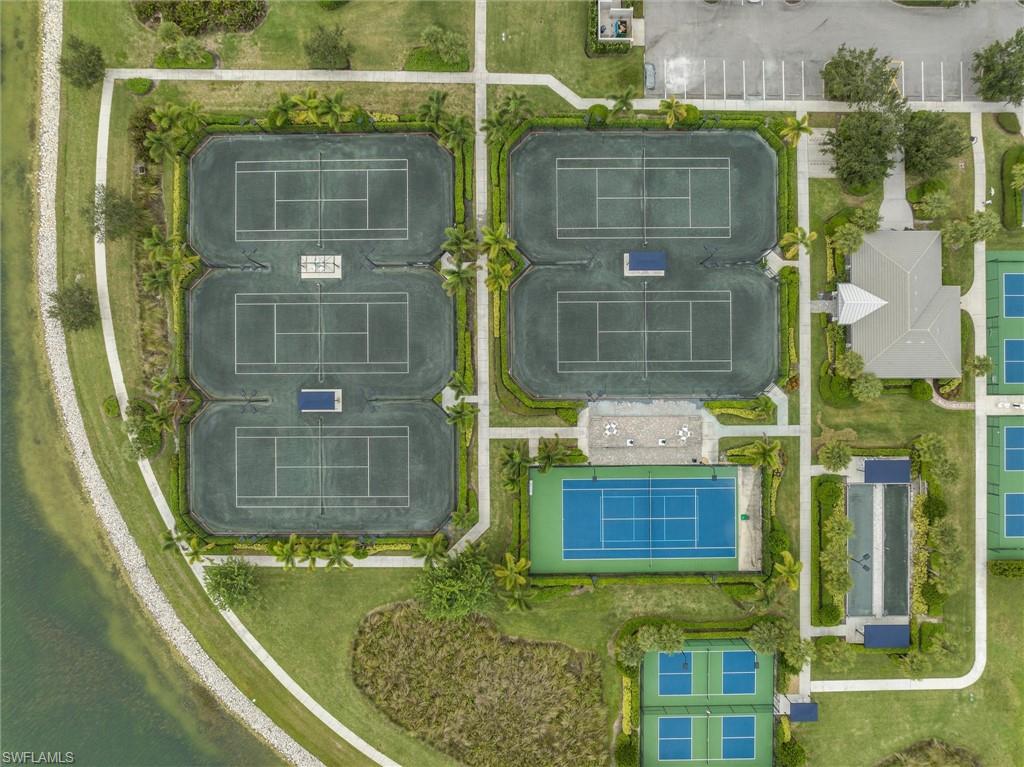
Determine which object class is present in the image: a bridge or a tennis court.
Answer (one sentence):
Visible in the photo is a tennis court.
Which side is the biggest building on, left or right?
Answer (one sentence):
It is on the right.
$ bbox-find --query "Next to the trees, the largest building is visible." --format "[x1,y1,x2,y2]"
[831,231,962,379]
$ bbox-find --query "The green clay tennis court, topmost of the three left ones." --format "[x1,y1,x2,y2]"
[190,135,452,267]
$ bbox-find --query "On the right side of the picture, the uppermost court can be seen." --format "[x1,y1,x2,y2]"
[511,132,776,265]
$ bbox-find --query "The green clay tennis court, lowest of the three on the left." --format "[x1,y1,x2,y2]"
[191,400,454,535]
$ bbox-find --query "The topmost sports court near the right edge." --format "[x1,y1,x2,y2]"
[986,251,1024,328]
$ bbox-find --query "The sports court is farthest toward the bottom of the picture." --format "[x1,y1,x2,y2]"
[641,706,774,767]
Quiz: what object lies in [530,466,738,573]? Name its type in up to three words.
tennis court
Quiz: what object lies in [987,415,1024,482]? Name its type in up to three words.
sports court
